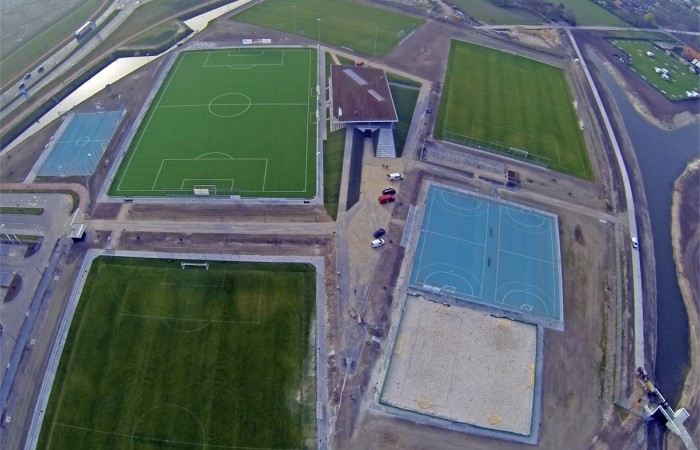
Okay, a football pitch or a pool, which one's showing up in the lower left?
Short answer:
football pitch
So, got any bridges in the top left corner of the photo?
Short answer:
No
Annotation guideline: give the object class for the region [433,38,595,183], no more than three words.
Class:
soccer field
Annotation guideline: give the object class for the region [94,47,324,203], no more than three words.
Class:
soccer field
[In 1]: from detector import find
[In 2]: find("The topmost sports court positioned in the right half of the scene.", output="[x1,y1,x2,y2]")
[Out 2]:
[397,181,563,331]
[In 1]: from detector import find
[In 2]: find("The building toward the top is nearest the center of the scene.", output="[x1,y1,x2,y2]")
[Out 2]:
[321,64,399,143]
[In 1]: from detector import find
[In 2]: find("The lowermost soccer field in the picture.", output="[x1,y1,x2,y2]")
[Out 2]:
[29,248,330,450]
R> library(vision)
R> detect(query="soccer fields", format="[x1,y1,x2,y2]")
[433,38,595,183]
[29,248,330,450]
[94,47,324,203]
